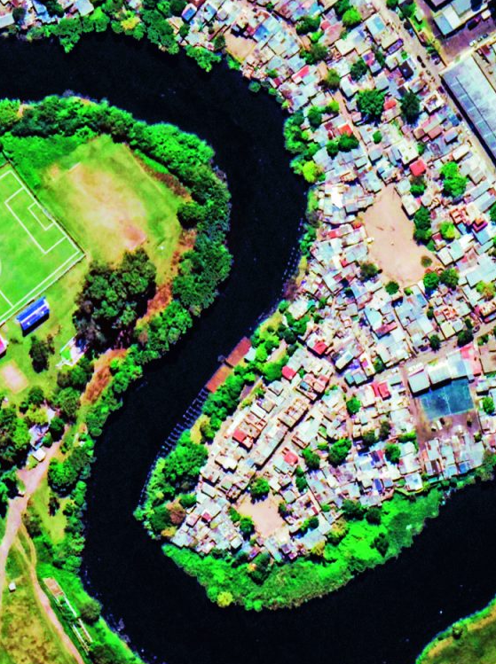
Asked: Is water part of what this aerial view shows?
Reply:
Yes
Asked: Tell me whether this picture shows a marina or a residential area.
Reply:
residential area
